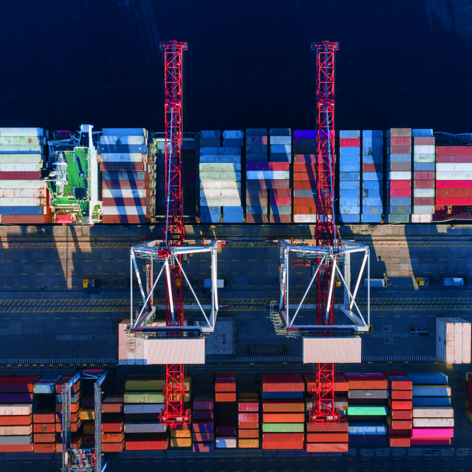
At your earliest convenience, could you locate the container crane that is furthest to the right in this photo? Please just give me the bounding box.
[256,41,372,423]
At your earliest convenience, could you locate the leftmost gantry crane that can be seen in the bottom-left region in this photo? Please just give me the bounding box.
[59,368,116,472]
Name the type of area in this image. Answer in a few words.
port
